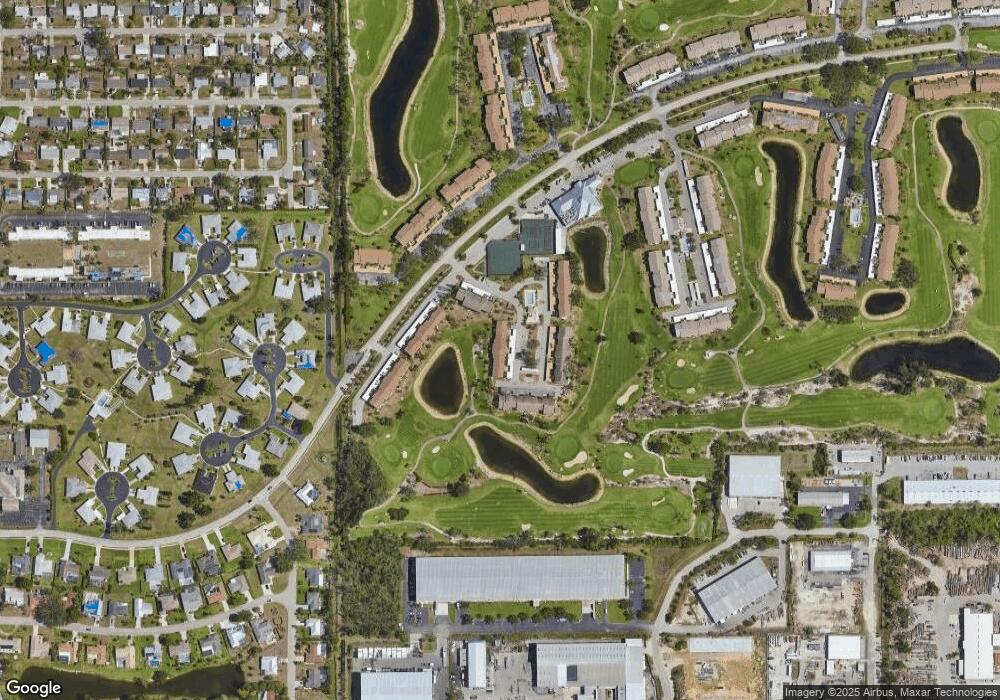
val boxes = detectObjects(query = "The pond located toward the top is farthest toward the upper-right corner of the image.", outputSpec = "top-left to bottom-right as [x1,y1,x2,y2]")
[938,115,981,212]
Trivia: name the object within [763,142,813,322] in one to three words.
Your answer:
pond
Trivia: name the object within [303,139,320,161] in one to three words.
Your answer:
house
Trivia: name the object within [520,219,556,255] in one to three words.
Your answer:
tennis court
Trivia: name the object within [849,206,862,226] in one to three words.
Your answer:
swimming pool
